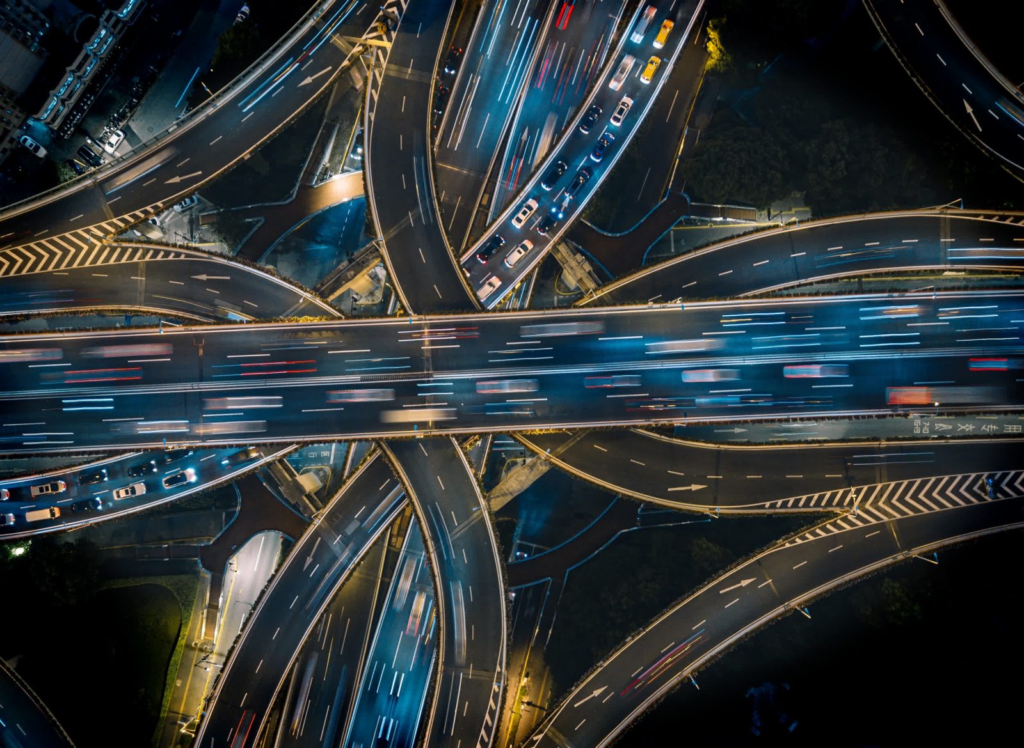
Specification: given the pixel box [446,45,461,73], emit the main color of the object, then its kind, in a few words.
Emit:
black car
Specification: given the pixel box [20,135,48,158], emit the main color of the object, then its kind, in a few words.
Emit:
blue car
